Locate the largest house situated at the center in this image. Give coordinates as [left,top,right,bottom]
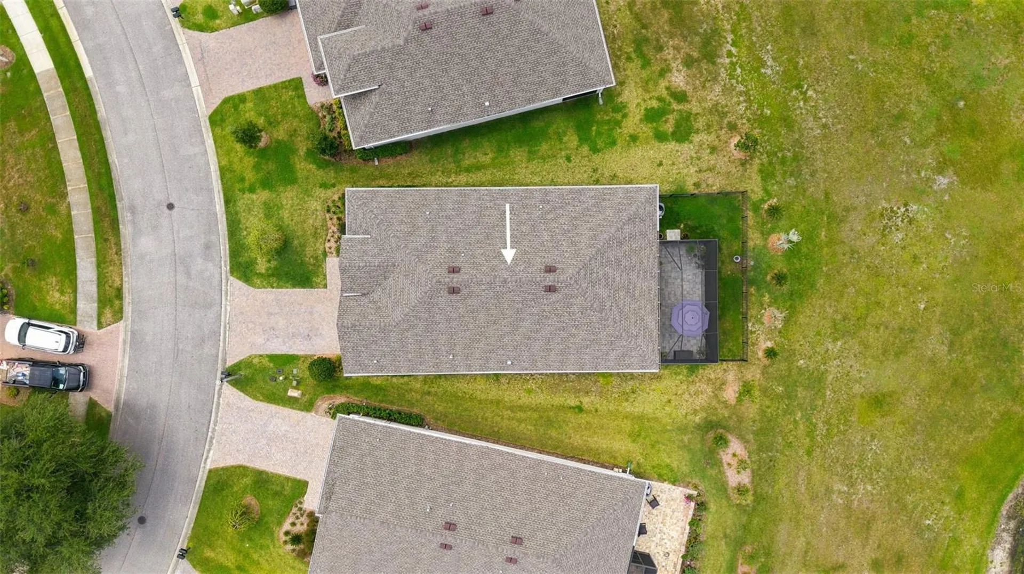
[336,182,663,378]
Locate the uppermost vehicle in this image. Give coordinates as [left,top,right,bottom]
[5,316,86,356]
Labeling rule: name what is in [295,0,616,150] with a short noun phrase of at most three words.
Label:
house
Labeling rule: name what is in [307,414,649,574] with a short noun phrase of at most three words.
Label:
house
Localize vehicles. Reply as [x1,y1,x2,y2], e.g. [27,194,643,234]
[5,316,86,356]
[4,357,90,395]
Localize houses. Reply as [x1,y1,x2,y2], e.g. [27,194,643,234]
[307,414,649,574]
[295,0,616,150]
[336,182,663,378]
